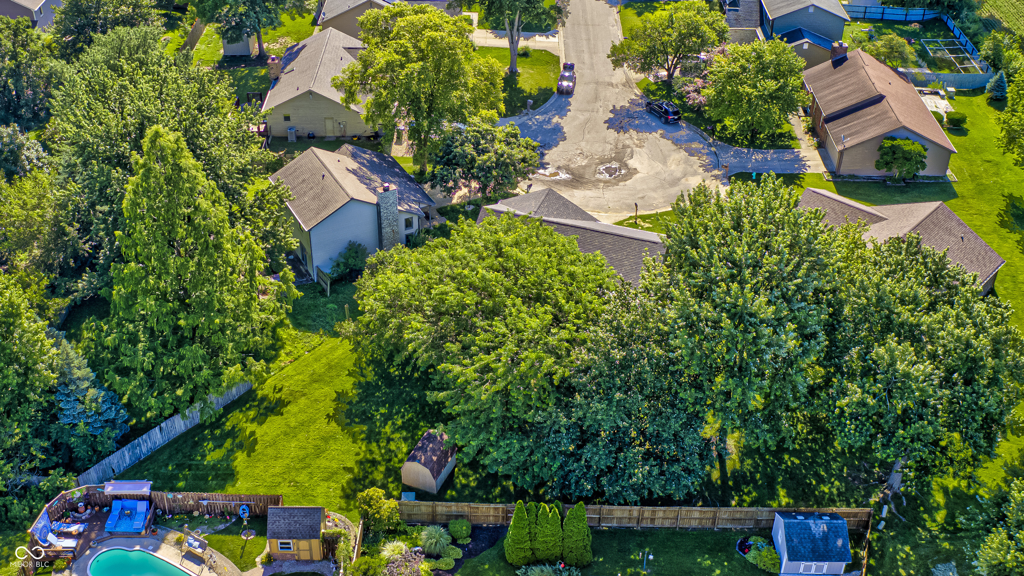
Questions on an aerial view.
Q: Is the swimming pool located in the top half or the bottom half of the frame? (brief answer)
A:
bottom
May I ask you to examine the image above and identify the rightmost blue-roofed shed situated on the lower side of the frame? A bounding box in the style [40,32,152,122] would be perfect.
[772,513,848,574]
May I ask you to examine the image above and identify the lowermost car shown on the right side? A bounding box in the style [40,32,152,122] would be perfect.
[641,98,684,122]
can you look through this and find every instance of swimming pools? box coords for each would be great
[82,544,201,576]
